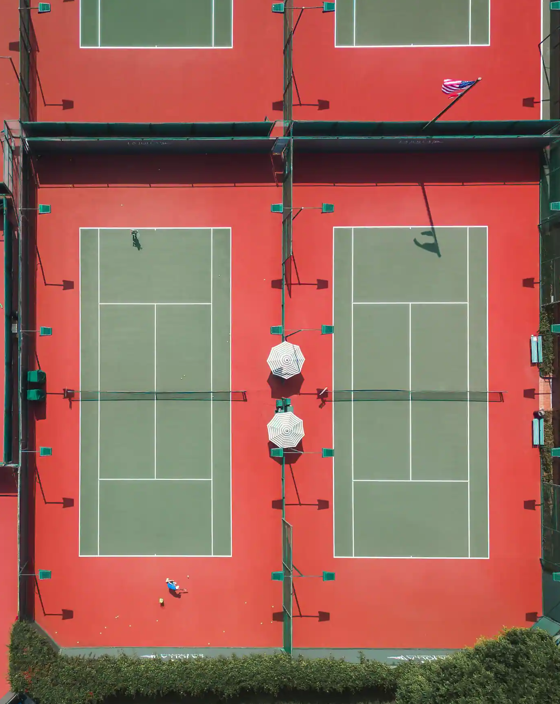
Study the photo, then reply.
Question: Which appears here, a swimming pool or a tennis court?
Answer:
tennis court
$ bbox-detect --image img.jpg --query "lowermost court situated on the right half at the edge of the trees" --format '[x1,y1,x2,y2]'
[284,153,540,647]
